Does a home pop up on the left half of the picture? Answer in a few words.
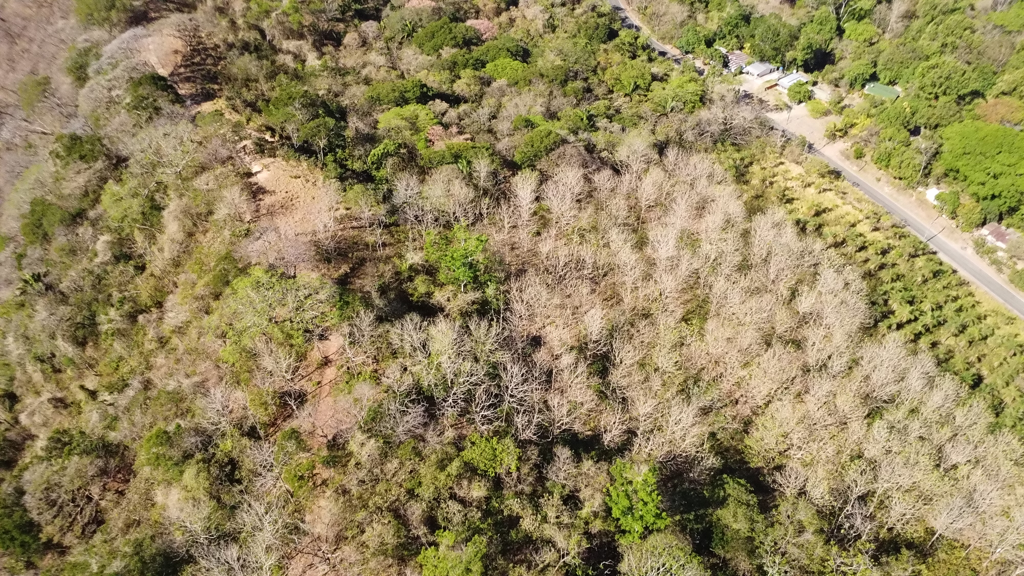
No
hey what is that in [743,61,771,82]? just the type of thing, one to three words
house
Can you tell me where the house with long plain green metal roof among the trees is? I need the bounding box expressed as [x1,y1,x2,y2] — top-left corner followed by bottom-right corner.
[865,84,900,104]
